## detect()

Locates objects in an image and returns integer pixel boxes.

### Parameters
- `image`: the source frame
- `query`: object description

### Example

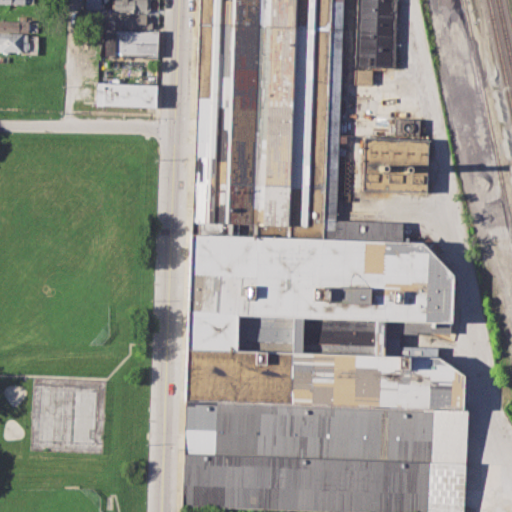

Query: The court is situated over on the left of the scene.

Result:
[31,380,106,453]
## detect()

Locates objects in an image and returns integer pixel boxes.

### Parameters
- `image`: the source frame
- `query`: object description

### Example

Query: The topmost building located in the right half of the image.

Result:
[355,0,397,69]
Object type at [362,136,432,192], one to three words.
building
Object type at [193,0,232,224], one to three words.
shed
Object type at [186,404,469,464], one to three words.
shed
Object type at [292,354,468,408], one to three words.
building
